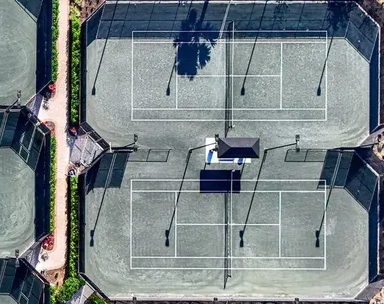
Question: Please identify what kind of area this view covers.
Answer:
sports ground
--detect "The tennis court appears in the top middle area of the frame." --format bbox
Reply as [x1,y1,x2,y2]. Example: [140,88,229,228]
[87,3,378,151]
